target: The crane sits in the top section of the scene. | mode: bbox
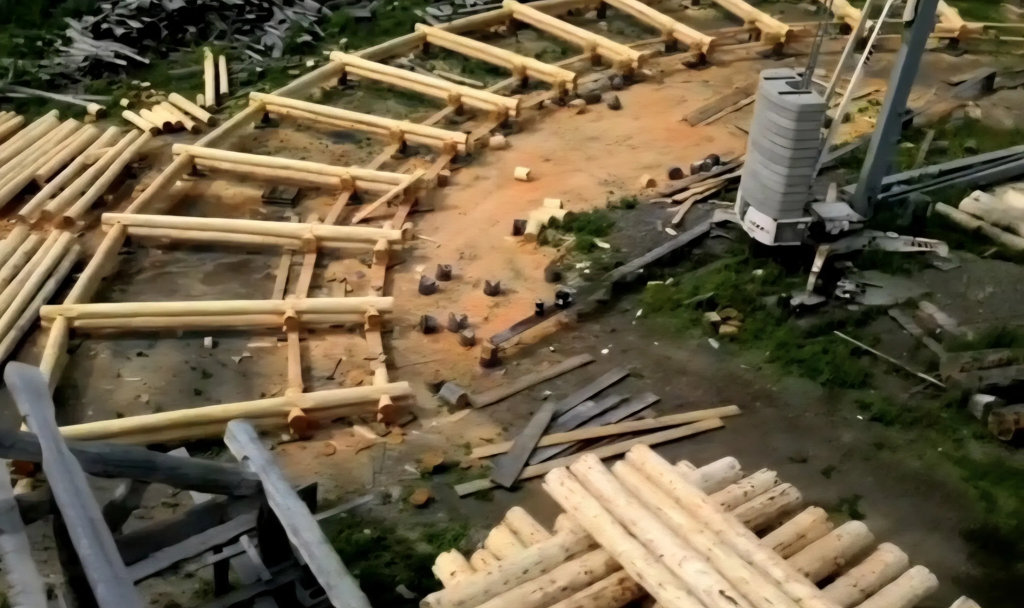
[708,0,959,307]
